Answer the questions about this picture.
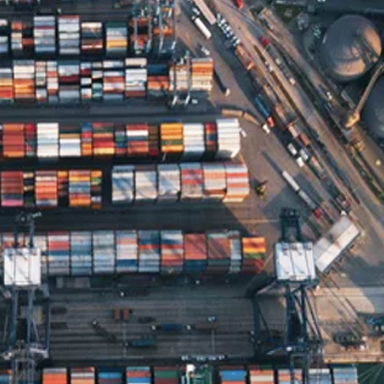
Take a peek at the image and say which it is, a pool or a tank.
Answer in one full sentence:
This aerial view contains a tank.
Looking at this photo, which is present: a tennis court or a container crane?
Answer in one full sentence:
Of the two, only a container crane appears.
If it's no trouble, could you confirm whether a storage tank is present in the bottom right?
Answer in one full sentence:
No, no storage tank can be made out in the bottom right.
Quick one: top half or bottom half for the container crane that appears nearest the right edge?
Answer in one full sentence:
The container crane that appears nearest the right edge is in the bottom half of the image.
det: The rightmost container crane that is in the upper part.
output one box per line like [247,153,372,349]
[168,51,191,108]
